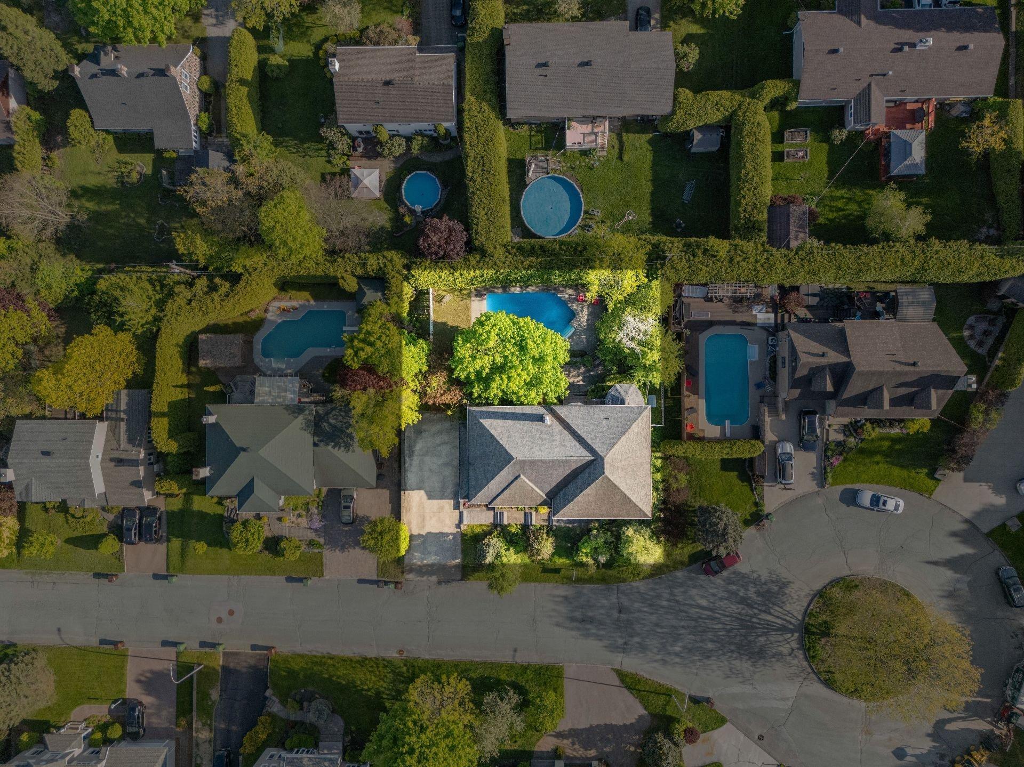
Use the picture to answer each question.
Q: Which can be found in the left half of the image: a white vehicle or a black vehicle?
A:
black vehicle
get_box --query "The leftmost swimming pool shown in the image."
[253,302,360,376]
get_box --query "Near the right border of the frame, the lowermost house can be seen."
[778,320,977,418]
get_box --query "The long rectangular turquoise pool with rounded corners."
[700,326,767,440]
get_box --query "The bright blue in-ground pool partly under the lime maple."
[471,288,599,349]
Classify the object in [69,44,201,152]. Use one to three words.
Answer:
house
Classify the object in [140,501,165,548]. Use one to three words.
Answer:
car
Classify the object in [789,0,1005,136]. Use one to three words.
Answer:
house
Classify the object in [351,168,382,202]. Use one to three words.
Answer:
gazebo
